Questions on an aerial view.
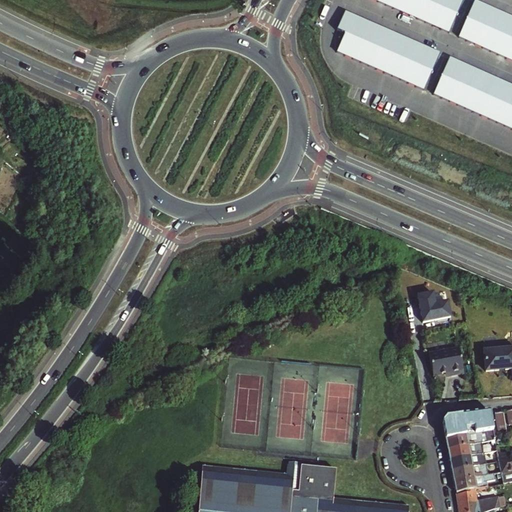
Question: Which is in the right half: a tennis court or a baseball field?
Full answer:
Looking in the right half, you will find a tennis court.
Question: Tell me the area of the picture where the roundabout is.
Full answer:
You can find the roundabout in the top area of the picture.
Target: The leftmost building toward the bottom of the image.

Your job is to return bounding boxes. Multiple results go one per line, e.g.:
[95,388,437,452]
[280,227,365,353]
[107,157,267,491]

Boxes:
[198,465,287,512]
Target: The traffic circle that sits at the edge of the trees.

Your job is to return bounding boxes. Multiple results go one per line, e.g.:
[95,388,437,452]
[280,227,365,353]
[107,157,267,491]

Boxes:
[111,28,308,226]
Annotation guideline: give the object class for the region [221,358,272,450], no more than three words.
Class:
tennis court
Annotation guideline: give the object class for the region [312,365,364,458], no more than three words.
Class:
tennis court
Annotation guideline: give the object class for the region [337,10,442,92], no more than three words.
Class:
building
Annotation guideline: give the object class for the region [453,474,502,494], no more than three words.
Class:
house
